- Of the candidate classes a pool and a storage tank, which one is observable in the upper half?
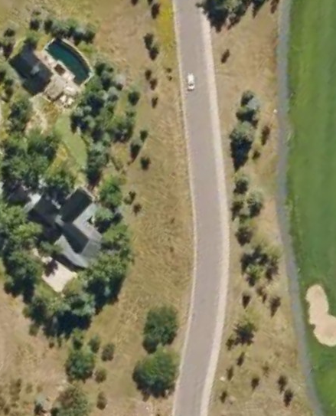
pool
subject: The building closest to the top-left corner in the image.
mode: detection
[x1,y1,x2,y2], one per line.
[7,43,54,92]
